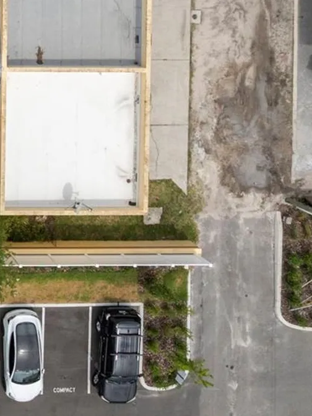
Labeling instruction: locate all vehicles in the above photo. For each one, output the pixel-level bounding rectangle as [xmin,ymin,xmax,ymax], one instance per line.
[90,295,148,401]
[0,308,49,401]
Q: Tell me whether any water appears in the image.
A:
No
